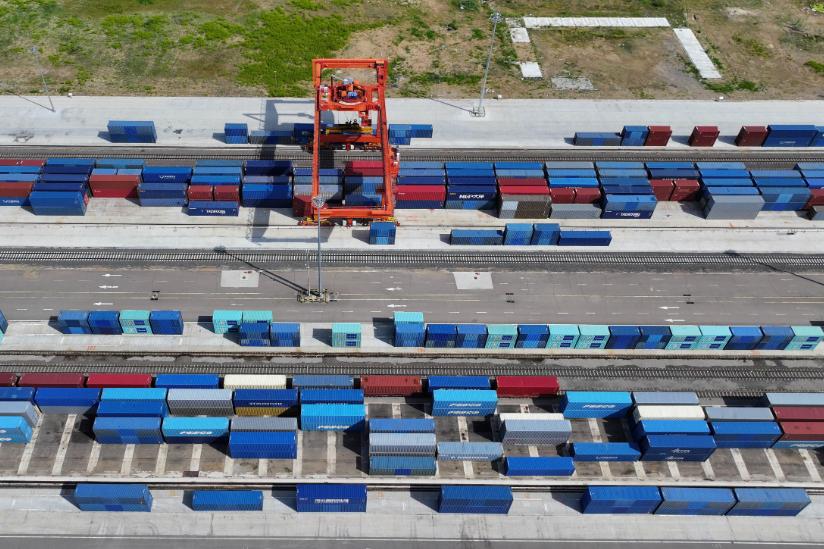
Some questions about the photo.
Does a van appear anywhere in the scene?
No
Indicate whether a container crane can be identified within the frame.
Yes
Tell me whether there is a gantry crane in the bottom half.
No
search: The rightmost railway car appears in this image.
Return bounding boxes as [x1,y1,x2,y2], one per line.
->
[492,384,563,397]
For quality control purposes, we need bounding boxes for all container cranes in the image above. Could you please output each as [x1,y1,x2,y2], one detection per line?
[298,57,402,228]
